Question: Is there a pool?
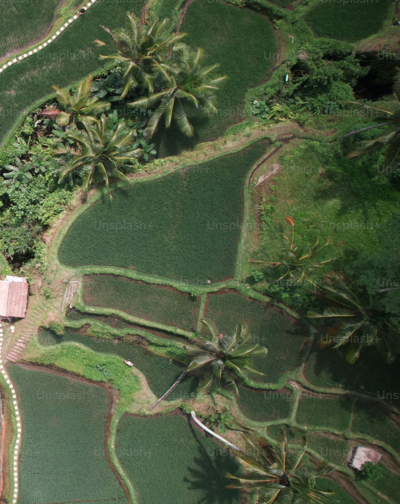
No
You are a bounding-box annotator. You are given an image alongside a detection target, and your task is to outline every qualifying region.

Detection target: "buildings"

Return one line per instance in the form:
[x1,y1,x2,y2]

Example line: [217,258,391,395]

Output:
[0,278,29,320]
[343,443,382,472]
